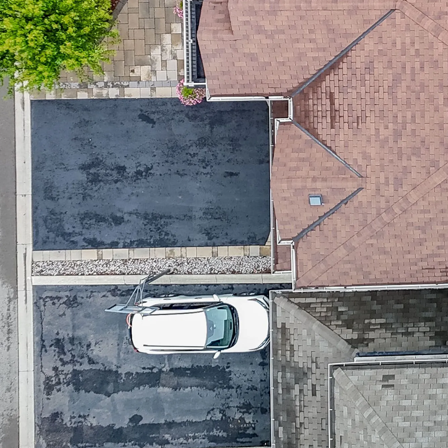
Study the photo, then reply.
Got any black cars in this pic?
No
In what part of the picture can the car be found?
bottom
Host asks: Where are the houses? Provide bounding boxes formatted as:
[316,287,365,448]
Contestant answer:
[252,290,448,448]
[181,0,448,289]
